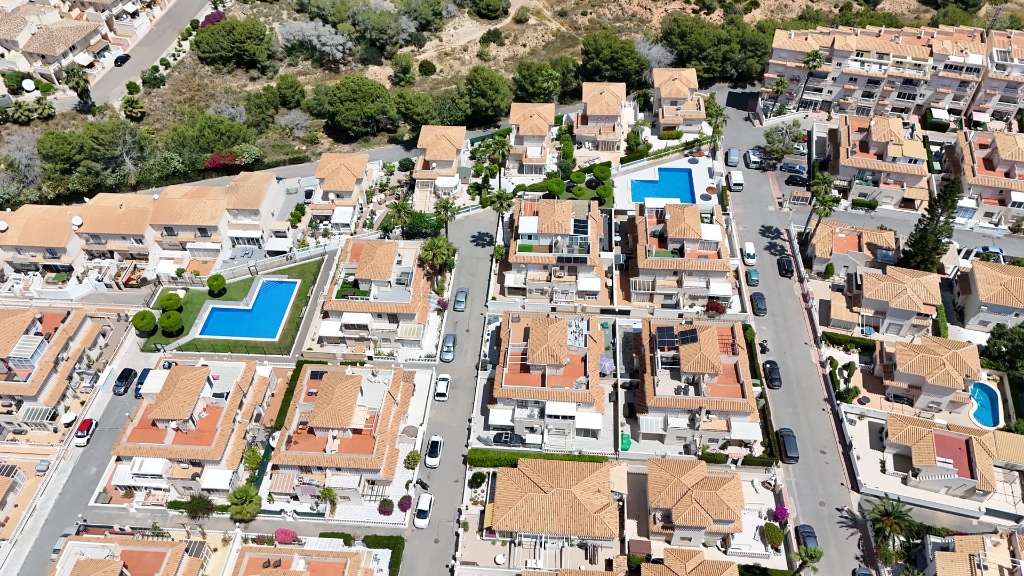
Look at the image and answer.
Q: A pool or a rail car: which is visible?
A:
pool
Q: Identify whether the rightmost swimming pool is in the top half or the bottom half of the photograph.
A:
bottom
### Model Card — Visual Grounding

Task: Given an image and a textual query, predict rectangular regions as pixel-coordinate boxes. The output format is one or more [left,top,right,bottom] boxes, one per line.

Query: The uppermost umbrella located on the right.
[690,150,708,165]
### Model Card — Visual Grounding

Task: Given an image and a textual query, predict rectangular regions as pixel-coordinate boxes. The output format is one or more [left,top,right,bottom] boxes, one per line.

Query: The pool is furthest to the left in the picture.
[193,272,303,344]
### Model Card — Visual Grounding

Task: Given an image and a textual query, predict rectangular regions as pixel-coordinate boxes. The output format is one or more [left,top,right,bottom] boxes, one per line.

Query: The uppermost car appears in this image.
[110,54,134,68]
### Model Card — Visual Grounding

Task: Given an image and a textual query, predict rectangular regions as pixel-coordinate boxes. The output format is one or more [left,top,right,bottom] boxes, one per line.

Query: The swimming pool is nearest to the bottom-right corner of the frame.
[968,378,1011,432]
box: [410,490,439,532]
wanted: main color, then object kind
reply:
white car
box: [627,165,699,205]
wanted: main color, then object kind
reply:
blue swimming pool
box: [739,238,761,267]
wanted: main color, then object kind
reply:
white vehicle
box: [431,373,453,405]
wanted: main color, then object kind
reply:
white car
